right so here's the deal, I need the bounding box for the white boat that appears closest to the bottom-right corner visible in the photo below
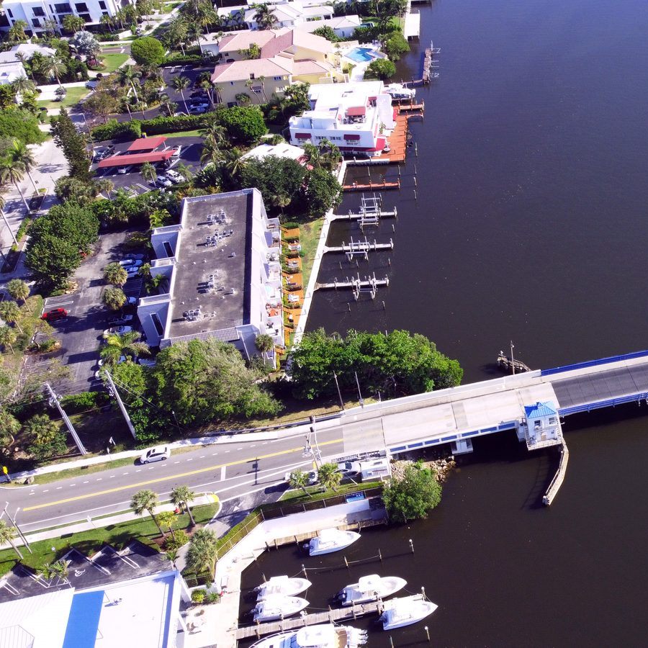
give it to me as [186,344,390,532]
[377,598,439,636]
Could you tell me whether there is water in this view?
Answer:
Yes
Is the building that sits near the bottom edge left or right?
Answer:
left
